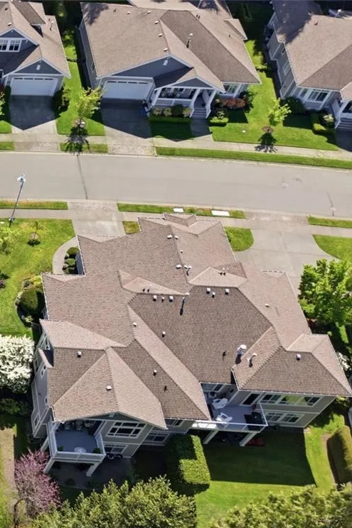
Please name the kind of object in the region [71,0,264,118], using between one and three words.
house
